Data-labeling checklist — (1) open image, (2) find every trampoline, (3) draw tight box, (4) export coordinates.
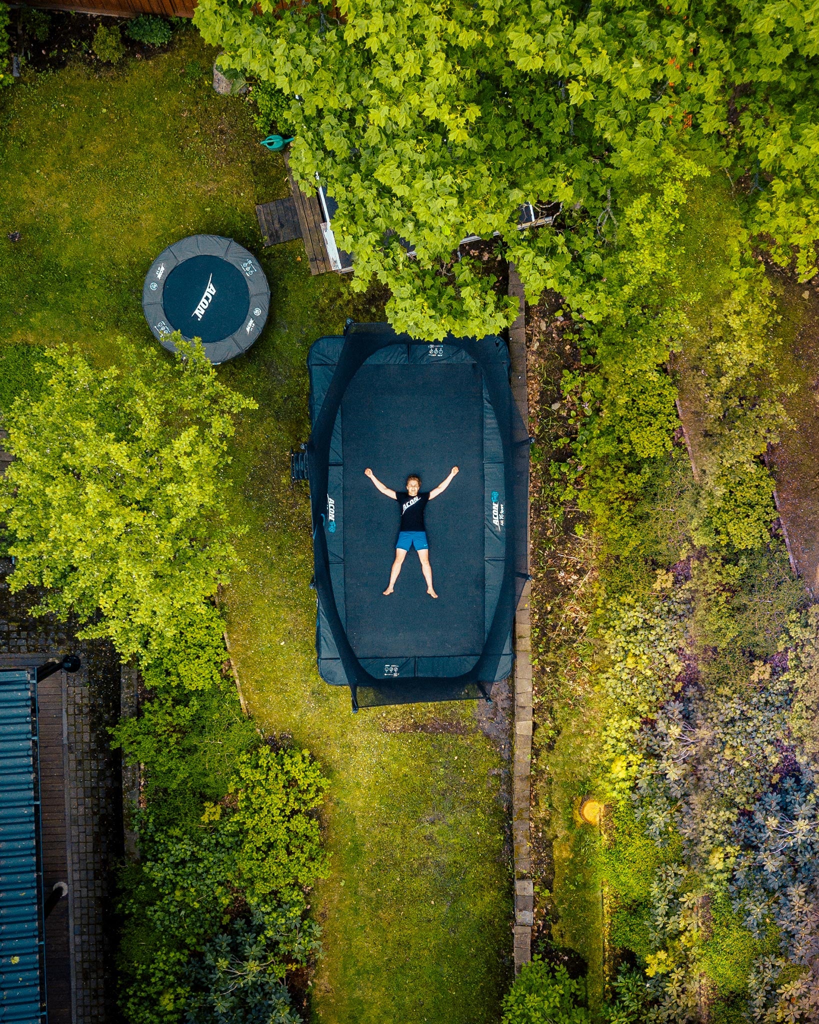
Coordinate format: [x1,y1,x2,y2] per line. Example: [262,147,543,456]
[300,316,536,712]
[142,236,271,365]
